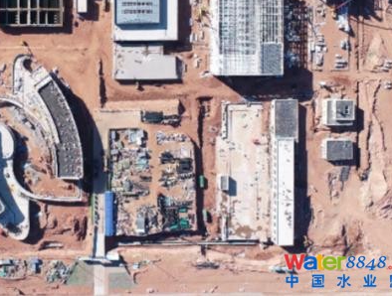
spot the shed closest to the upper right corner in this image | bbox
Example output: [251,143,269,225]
[322,101,355,124]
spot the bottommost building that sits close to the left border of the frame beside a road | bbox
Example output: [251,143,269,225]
[0,56,84,240]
